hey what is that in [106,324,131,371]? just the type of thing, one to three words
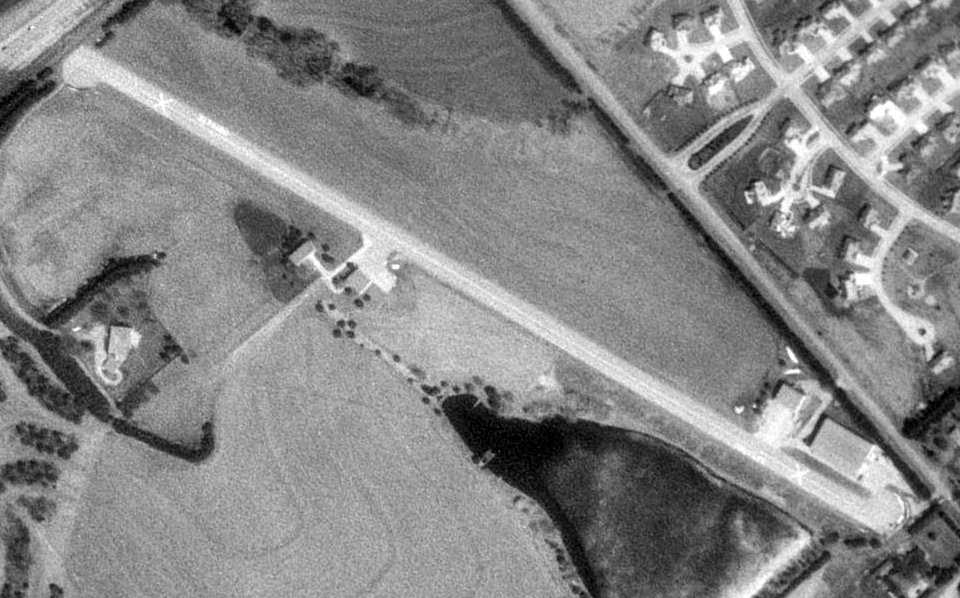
house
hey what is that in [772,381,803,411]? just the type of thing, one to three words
hangar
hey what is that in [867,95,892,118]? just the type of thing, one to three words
house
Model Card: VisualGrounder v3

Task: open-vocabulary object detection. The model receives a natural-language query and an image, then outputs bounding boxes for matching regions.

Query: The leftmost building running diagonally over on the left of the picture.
[288,240,317,266]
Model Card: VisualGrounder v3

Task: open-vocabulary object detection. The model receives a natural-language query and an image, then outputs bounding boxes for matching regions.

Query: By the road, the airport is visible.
[66,48,922,529]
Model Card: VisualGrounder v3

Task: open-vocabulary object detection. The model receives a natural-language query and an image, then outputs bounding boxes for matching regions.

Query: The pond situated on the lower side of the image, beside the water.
[445,395,809,598]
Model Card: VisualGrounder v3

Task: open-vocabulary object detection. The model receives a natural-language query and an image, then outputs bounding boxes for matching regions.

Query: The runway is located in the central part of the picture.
[66,48,903,529]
